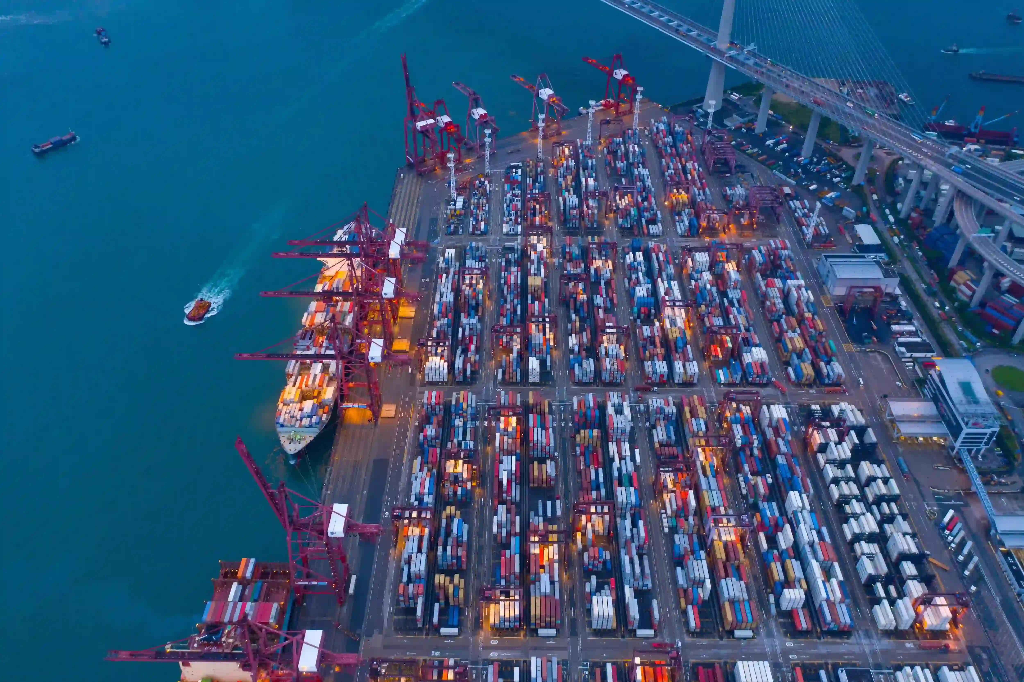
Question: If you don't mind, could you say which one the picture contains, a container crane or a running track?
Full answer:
The one in the frame is a container crane.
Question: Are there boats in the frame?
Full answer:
Yes, I can see a boat in this picture.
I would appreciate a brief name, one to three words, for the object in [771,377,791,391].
vehicle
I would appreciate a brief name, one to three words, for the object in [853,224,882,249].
shed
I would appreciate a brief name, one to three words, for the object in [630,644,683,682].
container crane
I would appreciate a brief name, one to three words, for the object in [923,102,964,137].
ship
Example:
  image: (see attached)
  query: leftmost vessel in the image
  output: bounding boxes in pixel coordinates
[26,131,80,155]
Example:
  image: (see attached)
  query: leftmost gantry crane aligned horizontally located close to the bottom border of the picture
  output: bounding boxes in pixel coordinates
[112,615,368,682]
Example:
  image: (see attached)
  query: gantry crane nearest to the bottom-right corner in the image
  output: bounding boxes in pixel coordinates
[916,594,978,631]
